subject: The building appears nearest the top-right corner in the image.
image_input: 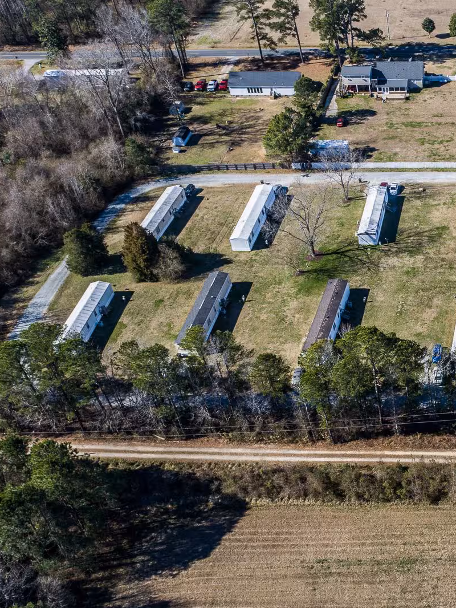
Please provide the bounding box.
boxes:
[342,54,425,100]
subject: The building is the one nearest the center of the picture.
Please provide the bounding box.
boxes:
[173,270,230,351]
